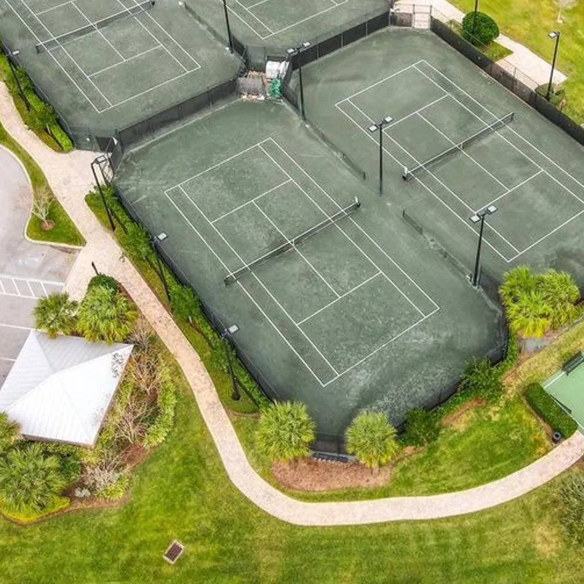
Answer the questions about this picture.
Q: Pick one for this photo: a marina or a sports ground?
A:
sports ground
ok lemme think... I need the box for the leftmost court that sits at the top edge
[0,0,247,152]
